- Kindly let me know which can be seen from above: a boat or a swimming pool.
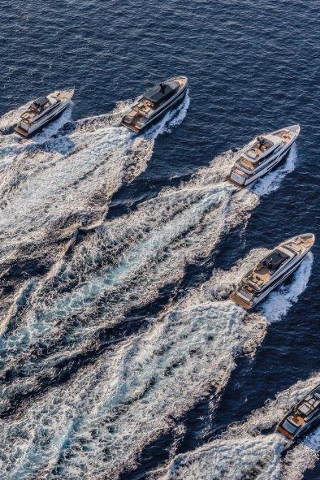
boat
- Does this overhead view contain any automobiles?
No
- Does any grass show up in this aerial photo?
No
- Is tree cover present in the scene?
No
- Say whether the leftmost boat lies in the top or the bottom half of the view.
top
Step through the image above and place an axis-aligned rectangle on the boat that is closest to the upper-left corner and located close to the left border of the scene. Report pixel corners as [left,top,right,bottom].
[13,85,74,138]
